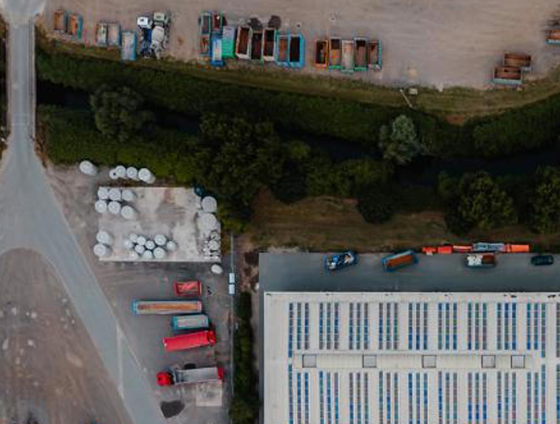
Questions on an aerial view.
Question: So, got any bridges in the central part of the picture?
No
